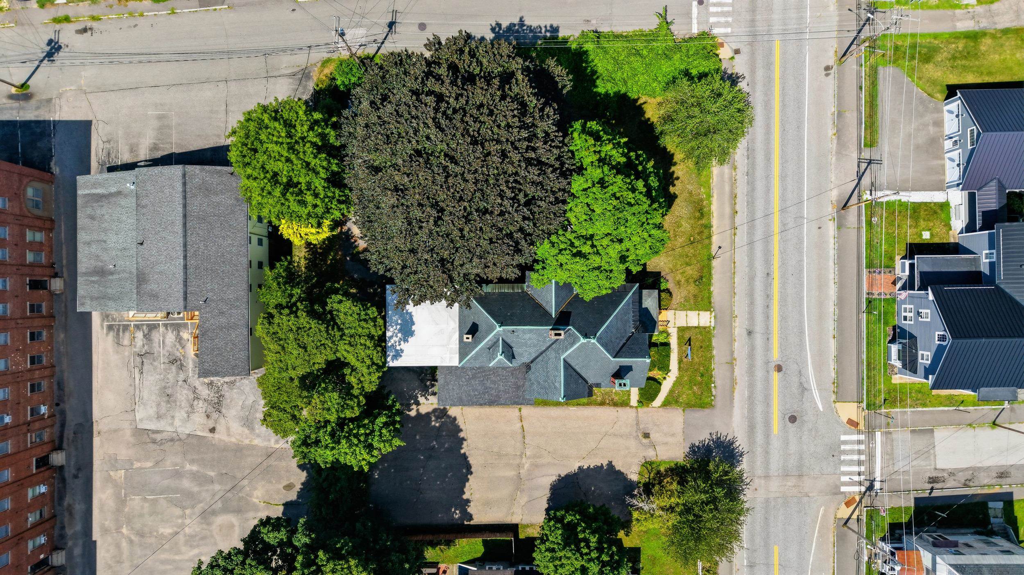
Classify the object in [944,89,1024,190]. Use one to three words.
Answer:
house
